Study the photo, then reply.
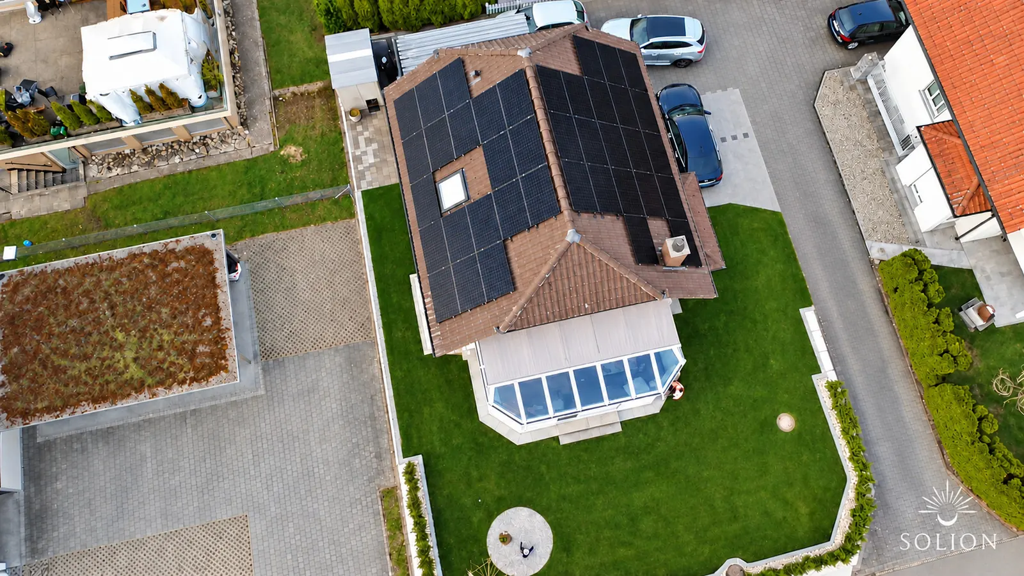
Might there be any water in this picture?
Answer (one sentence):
No, there's no water in this view.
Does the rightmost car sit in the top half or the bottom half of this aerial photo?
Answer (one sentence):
The rightmost car sits in the top half of the picture.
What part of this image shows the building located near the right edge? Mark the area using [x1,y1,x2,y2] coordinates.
[869,0,1024,304]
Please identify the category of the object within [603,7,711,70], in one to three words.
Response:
car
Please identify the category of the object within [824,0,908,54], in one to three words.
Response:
car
